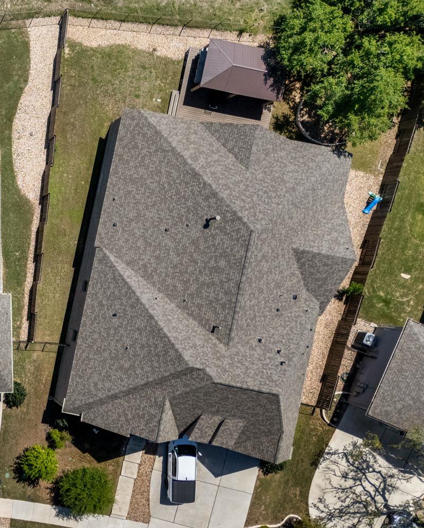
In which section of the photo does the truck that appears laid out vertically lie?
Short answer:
bottom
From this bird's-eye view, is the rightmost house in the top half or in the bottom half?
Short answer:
bottom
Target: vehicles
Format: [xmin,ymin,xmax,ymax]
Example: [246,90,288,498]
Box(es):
[386,511,417,528]
[167,431,201,503]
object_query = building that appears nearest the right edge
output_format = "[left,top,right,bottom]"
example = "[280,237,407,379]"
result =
[347,317,424,442]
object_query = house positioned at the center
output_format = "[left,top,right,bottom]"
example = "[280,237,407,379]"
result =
[50,109,355,464]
